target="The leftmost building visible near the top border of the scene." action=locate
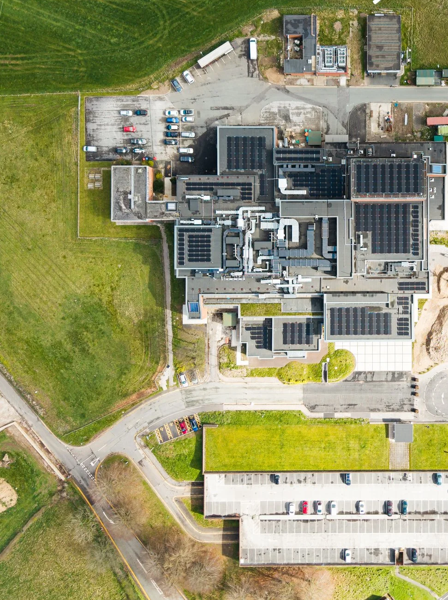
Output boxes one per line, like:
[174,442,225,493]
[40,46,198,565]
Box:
[284,15,317,76]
